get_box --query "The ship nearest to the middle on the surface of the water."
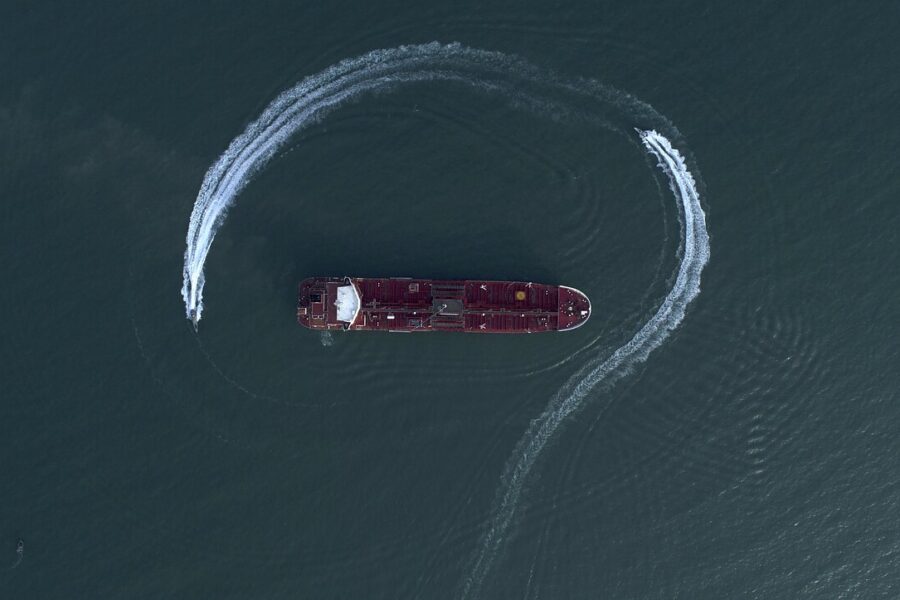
[298,277,592,334]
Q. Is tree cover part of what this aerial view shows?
No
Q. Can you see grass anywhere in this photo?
No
